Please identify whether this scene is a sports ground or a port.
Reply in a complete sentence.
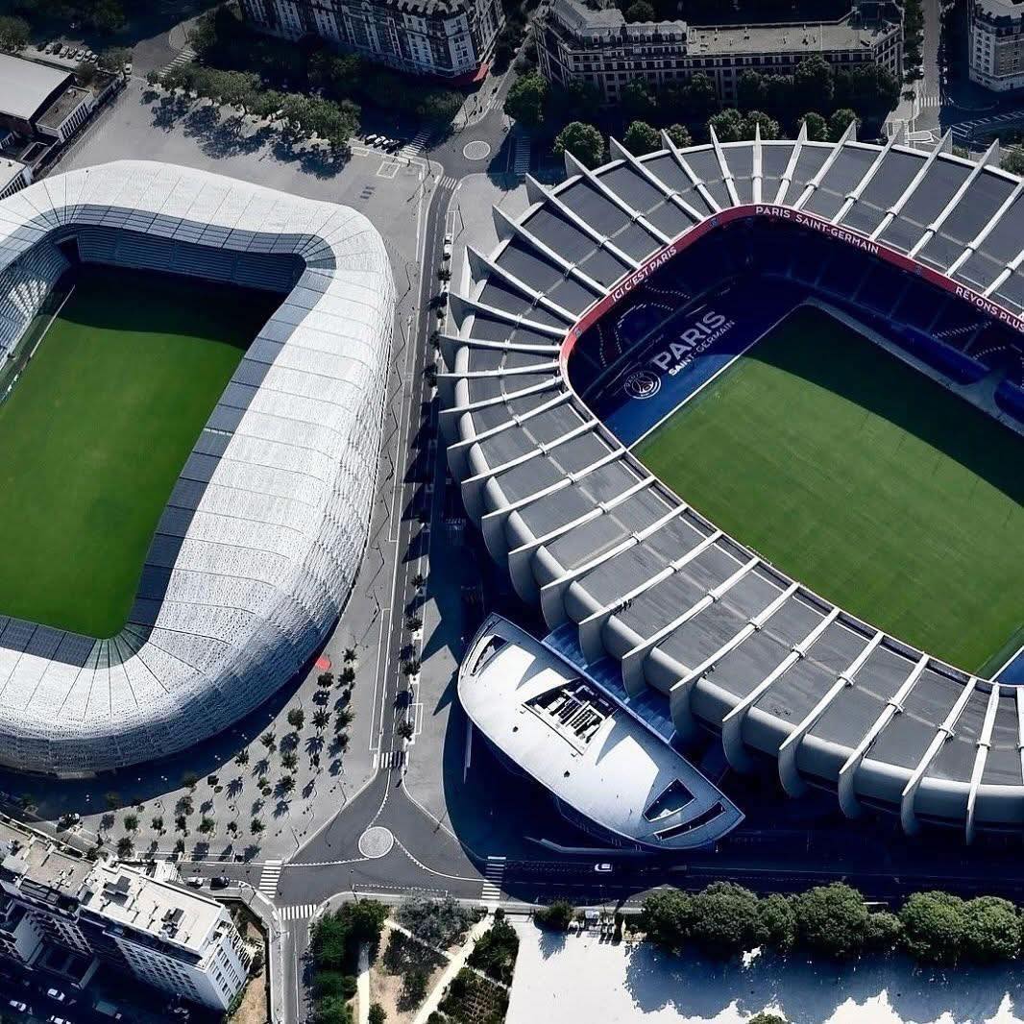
It's a sports ground.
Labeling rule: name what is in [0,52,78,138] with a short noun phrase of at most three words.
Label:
building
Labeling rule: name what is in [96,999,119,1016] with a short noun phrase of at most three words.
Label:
vehicle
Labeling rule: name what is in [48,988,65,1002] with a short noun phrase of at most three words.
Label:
car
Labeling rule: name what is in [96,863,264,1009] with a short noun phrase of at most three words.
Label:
building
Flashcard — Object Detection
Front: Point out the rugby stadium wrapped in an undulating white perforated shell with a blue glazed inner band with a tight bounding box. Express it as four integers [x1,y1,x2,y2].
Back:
[0,161,398,774]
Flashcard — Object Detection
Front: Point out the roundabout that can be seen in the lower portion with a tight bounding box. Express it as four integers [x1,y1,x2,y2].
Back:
[358,826,394,858]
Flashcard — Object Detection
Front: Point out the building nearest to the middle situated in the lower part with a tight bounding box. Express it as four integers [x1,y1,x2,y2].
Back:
[460,614,744,862]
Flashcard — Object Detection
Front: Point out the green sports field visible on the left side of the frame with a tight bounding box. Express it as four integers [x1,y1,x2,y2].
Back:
[0,278,277,634]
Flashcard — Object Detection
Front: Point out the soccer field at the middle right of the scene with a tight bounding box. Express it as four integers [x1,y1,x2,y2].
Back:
[623,300,1024,681]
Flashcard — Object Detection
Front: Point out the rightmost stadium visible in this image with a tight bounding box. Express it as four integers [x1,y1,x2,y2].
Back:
[436,120,1024,848]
